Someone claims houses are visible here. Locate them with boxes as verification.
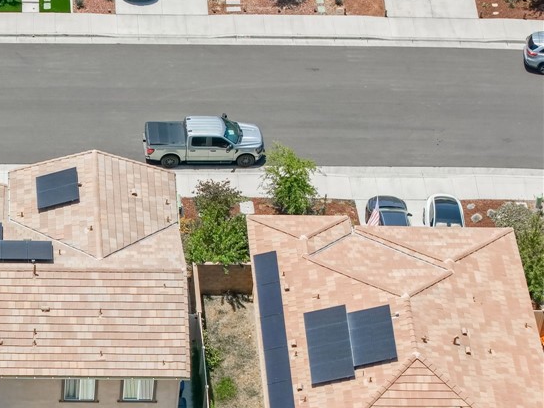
[0,148,192,408]
[246,214,544,408]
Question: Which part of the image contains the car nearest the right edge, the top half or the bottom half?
top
